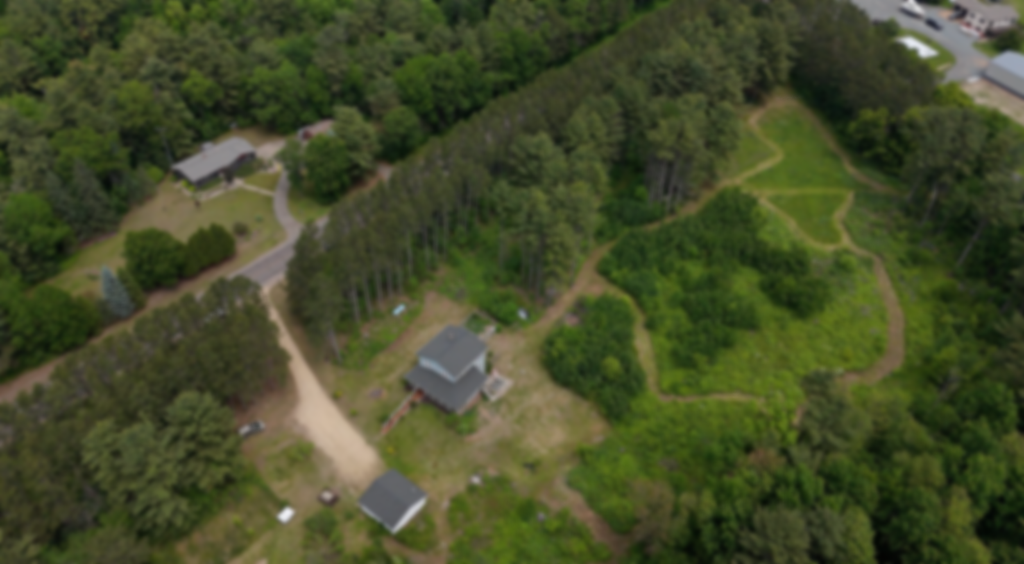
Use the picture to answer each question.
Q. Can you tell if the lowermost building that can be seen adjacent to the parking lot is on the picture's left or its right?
right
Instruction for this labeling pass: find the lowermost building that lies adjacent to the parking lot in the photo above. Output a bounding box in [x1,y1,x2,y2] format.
[980,57,1024,107]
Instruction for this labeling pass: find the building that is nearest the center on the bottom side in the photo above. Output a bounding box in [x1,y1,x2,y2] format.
[403,324,489,418]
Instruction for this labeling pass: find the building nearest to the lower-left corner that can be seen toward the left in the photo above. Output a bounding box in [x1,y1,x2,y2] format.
[358,470,428,535]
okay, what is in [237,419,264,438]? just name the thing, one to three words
car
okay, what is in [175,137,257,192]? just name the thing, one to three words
house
